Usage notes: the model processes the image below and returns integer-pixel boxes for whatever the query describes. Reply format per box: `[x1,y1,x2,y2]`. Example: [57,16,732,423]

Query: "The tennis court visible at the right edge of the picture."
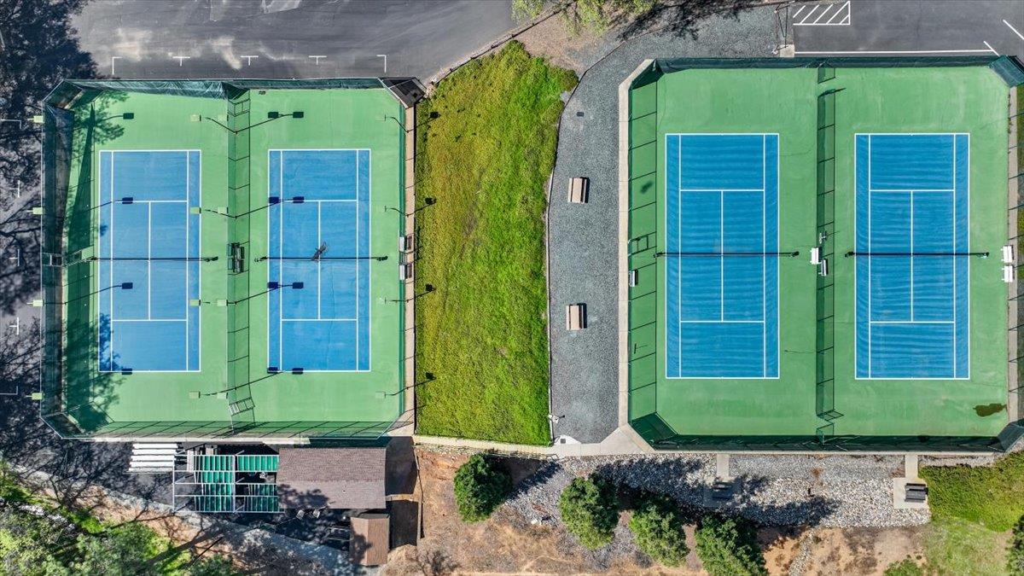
[817,70,1008,442]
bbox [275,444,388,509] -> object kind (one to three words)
building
